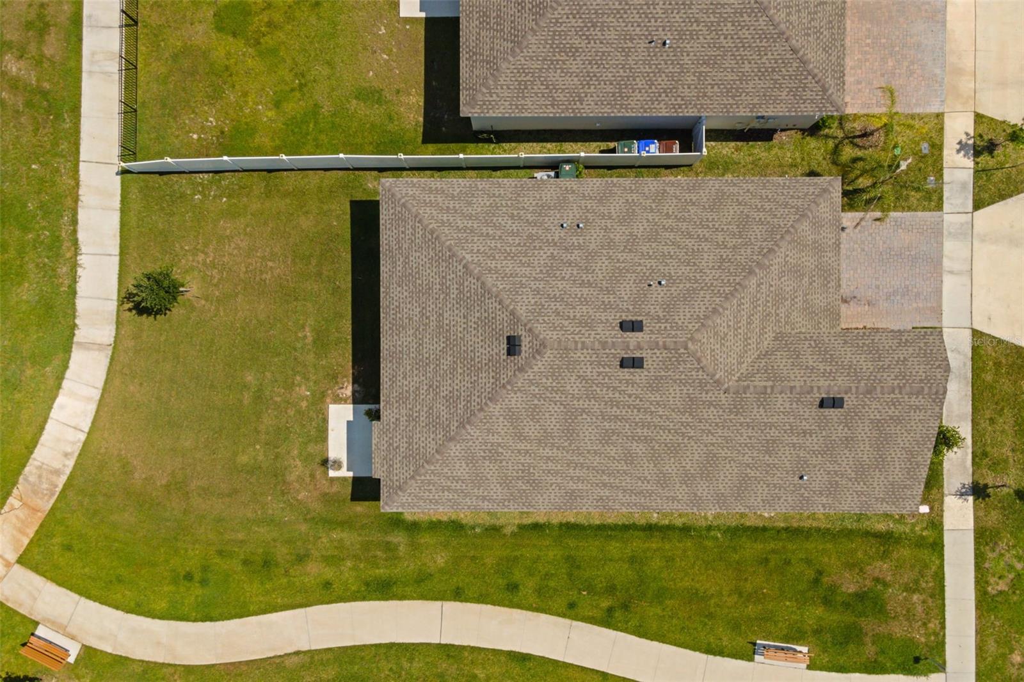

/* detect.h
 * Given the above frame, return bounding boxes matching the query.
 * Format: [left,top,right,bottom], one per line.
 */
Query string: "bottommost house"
[372,177,950,512]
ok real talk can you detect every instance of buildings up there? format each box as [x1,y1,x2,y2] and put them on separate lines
[372,177,950,512]
[460,0,845,136]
